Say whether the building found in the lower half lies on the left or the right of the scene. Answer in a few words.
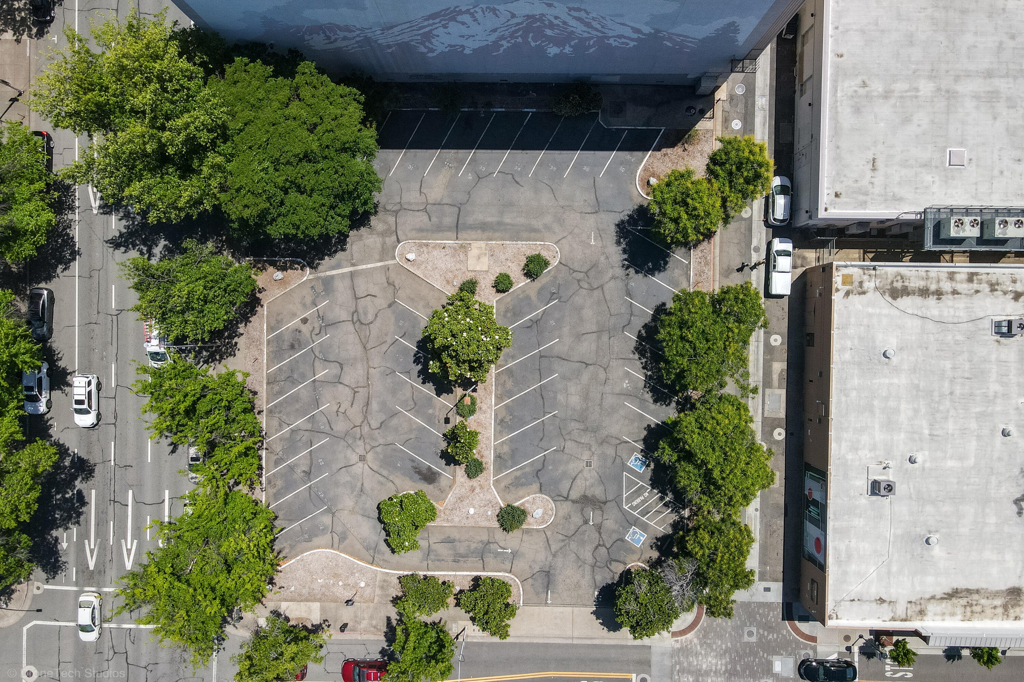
right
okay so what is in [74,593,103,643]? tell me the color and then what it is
white car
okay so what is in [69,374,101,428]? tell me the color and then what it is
white car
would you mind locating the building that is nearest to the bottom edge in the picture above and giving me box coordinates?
[800,262,1024,643]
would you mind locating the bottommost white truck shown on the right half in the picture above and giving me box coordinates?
[769,237,797,298]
